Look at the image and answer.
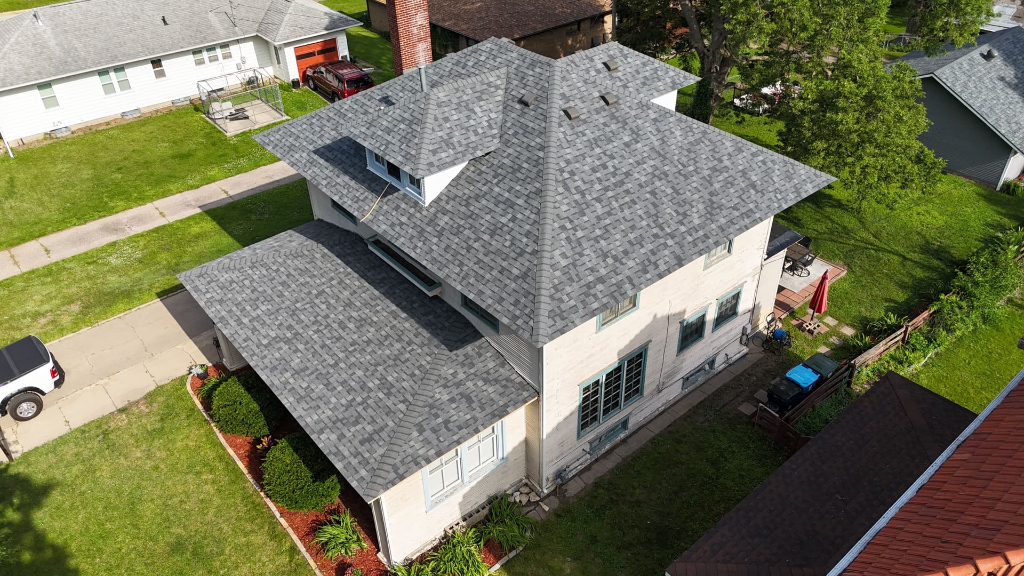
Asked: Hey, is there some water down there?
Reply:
No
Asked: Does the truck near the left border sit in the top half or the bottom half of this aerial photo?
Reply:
bottom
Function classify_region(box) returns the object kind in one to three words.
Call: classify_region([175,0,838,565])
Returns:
house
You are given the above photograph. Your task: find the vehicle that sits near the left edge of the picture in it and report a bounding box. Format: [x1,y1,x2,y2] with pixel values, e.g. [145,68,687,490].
[0,331,76,419]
